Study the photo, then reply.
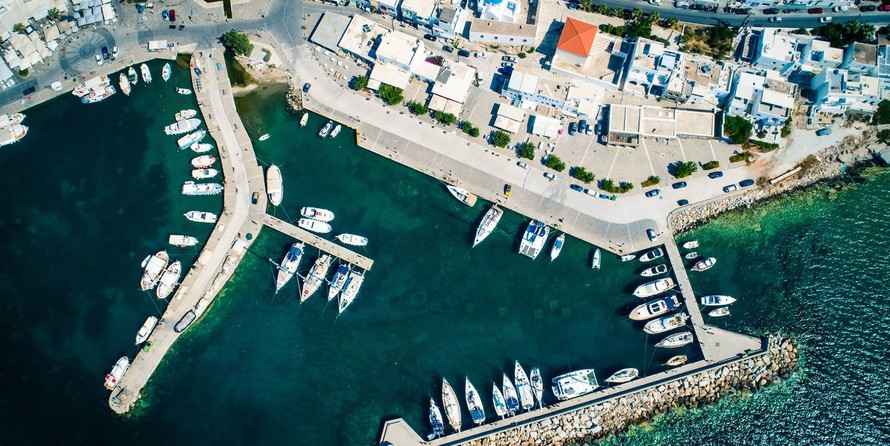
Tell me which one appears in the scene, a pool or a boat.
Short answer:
boat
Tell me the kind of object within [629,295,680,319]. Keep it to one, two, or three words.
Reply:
boat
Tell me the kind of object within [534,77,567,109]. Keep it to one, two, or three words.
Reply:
house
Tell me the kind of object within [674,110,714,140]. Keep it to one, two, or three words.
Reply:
building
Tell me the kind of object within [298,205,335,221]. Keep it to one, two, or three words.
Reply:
boat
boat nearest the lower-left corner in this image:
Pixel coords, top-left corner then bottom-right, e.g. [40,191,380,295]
[103,357,131,392]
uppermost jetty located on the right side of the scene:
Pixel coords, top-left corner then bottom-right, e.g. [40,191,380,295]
[662,236,766,369]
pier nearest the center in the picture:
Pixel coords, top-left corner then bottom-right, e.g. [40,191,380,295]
[263,213,373,270]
